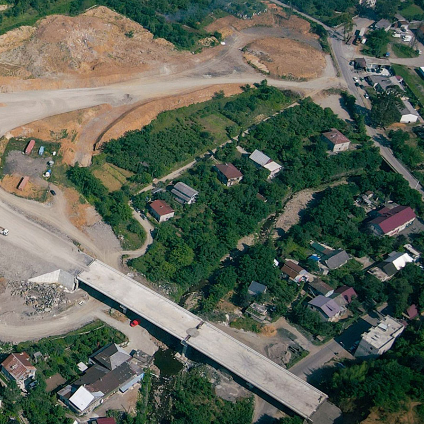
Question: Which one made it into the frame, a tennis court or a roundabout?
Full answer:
Of the two, only a roundabout appears.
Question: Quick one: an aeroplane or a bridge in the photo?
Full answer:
There is a bridge in the scene.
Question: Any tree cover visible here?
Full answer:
Yes, some tree cover is visible.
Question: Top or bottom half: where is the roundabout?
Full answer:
The top half of the photo is where the roundabout is.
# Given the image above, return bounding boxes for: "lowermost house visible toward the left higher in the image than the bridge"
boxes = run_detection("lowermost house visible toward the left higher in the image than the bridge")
[149,200,175,226]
